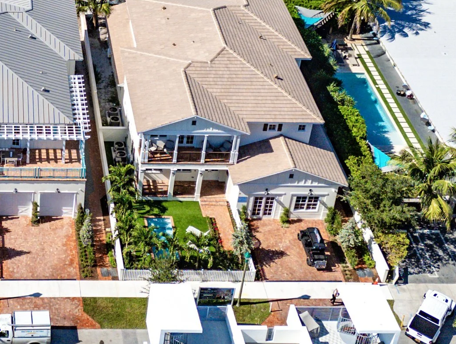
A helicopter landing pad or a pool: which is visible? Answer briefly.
pool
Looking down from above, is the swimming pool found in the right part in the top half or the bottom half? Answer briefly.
top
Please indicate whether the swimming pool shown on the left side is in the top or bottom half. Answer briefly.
bottom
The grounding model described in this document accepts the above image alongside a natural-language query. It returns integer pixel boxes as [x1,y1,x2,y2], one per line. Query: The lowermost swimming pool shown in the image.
[144,215,182,260]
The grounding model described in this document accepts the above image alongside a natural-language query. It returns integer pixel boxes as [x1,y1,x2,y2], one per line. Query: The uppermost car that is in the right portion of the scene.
[291,226,338,278]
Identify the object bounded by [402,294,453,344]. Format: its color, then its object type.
white truck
